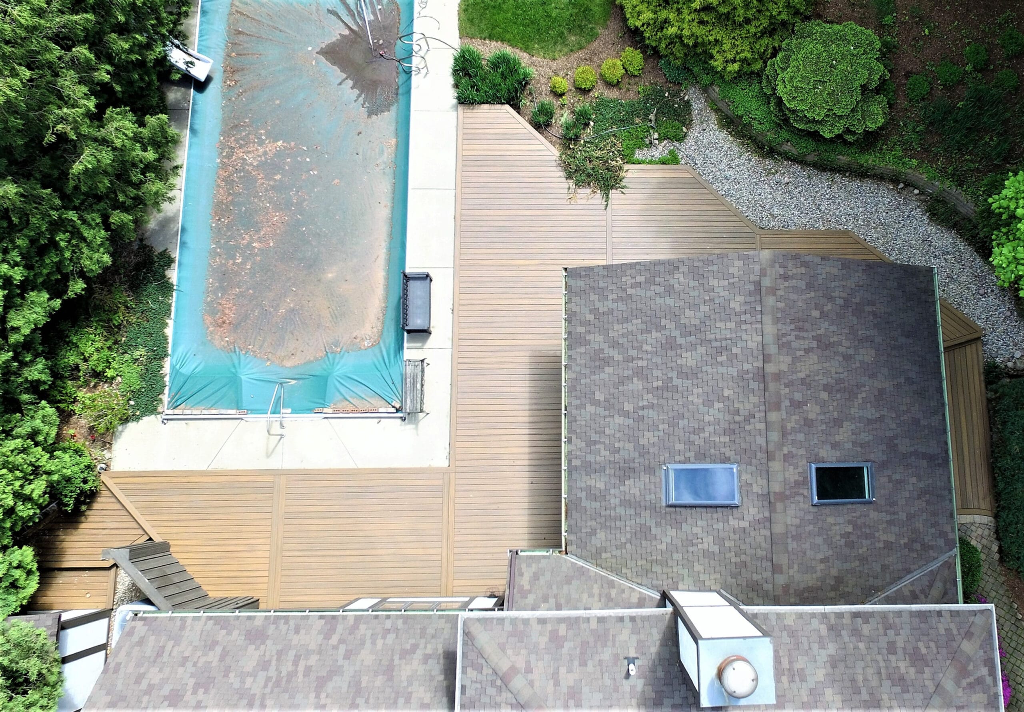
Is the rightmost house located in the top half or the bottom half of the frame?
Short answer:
bottom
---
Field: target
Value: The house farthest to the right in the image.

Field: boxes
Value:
[86,249,1007,712]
